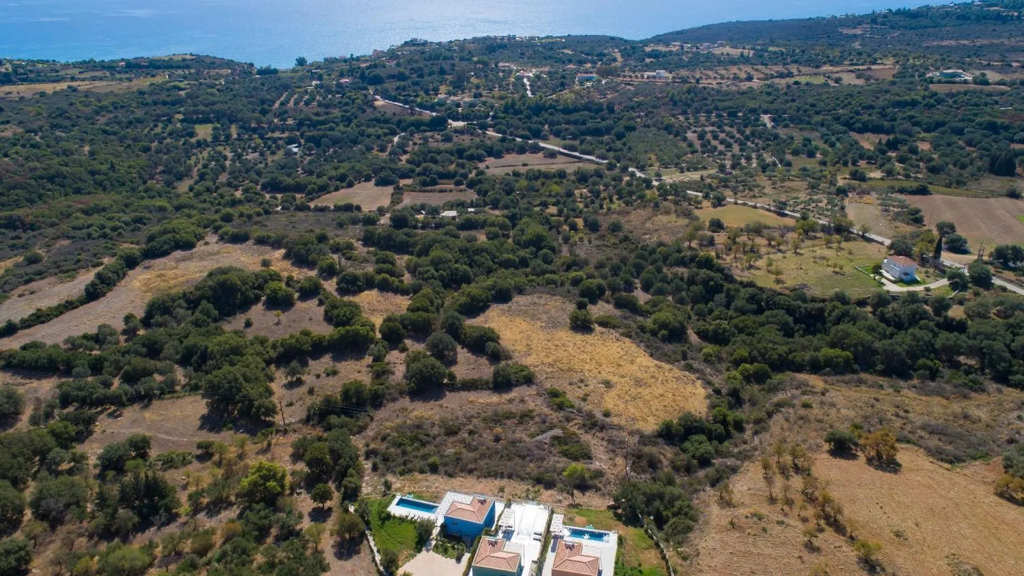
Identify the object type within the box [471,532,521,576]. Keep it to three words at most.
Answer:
house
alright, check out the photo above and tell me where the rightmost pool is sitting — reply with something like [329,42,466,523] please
[564,527,611,542]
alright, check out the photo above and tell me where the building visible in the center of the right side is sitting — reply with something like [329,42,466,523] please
[882,256,923,286]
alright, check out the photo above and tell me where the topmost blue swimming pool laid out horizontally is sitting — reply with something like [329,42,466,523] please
[395,496,440,514]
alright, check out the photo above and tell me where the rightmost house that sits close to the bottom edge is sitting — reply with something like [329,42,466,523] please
[550,536,599,576]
